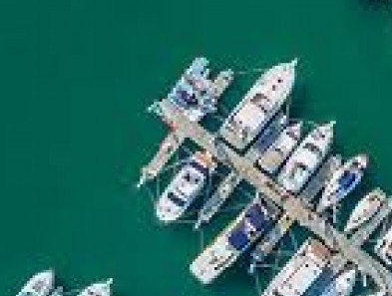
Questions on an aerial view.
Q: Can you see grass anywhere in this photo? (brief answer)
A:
No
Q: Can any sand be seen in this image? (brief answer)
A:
No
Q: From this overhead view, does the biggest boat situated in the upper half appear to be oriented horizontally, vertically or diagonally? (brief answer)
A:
diagonally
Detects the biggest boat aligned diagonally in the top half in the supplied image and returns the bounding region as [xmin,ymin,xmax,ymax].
[221,59,296,151]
